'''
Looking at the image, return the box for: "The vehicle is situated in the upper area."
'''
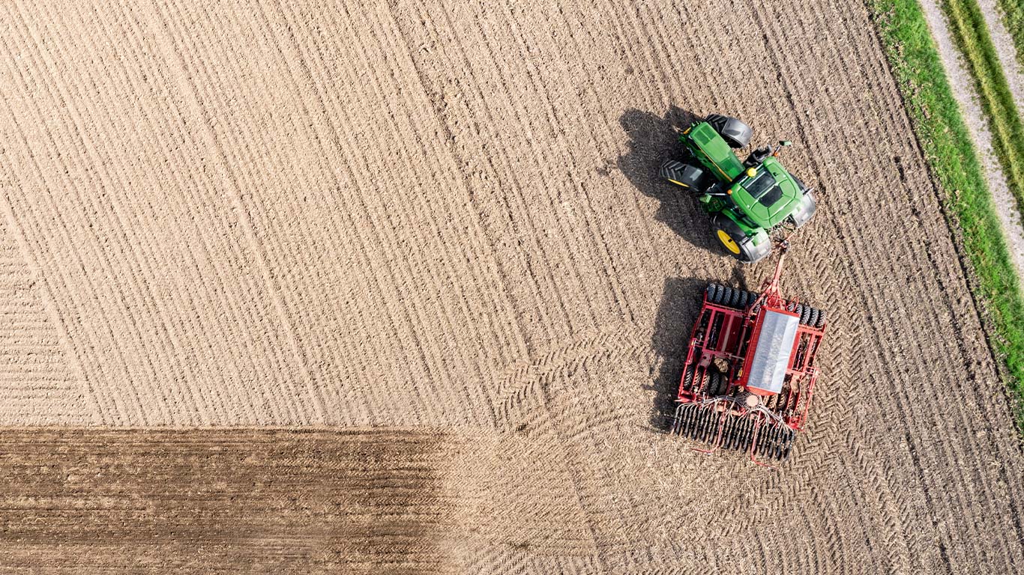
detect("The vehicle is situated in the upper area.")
[658,114,817,267]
